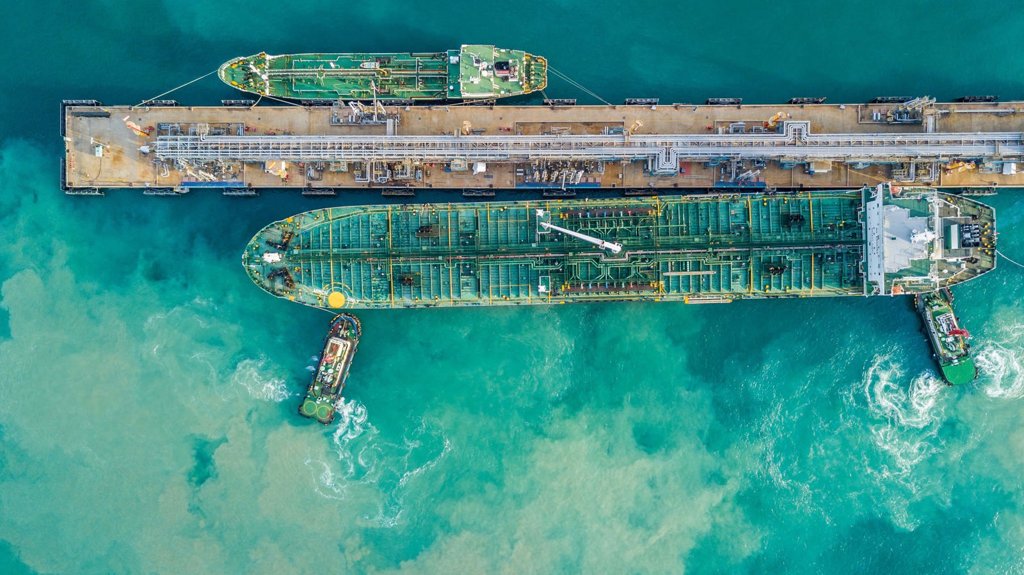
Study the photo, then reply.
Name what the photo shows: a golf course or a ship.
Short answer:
ship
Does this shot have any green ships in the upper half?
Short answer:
Yes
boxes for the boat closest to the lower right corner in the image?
[911,288,979,387]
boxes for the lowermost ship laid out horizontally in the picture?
[241,184,1007,309]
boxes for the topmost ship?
[216,43,547,102]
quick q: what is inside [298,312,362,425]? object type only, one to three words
boat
